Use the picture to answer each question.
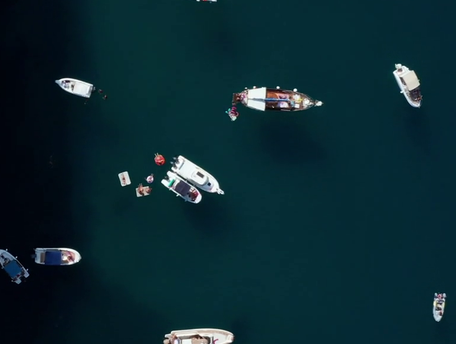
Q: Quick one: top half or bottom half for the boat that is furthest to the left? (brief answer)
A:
bottom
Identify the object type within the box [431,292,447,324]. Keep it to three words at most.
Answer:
boat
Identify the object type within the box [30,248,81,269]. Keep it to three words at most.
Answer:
boat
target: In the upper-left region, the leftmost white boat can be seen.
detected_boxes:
[53,79,96,98]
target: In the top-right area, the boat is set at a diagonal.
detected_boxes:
[390,63,423,107]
